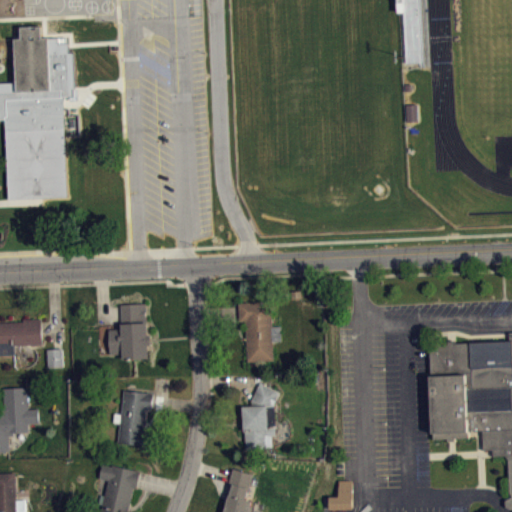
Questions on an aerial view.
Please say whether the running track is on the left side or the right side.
right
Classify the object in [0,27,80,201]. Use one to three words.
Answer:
building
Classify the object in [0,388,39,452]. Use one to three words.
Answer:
house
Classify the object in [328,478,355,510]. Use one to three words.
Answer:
shed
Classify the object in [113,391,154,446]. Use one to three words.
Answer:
house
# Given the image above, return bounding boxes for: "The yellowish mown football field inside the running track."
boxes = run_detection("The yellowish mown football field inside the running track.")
[452,0,512,176]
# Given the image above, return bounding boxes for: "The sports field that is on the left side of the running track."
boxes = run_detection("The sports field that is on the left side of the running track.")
[233,0,444,236]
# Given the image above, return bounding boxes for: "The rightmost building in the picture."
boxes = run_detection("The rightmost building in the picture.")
[428,342,512,512]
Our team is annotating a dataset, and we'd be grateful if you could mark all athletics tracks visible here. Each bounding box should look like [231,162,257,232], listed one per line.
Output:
[430,0,512,198]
